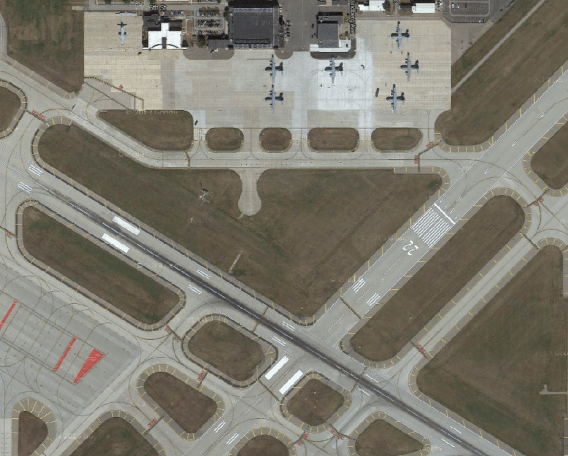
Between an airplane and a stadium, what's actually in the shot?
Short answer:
airplane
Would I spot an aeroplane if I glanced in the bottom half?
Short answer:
No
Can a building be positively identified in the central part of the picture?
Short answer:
No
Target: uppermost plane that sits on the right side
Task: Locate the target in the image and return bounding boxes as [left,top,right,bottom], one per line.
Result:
[392,22,411,49]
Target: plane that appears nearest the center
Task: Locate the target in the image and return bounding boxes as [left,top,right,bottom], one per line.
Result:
[265,85,284,112]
